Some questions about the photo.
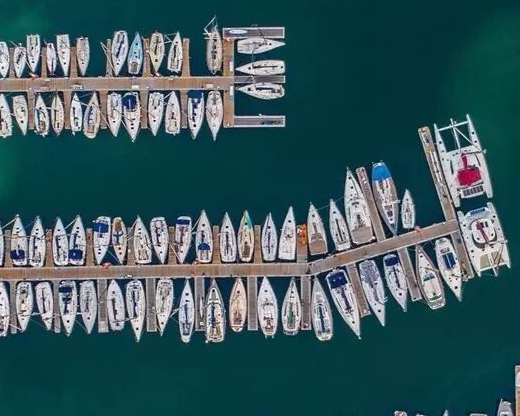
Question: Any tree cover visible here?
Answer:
No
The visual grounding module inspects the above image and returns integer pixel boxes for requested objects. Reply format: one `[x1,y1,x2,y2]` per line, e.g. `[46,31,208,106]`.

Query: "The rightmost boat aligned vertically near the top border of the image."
[205,19,223,72]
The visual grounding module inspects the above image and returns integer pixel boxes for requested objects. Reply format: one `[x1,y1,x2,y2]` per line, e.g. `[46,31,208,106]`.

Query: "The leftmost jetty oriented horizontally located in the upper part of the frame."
[0,77,234,92]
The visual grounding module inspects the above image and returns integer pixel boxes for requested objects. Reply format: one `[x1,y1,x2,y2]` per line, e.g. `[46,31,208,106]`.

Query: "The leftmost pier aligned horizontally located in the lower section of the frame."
[0,263,311,281]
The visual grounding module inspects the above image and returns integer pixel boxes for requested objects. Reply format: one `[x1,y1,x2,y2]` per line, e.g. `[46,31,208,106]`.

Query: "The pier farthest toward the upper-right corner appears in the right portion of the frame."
[418,126,455,222]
